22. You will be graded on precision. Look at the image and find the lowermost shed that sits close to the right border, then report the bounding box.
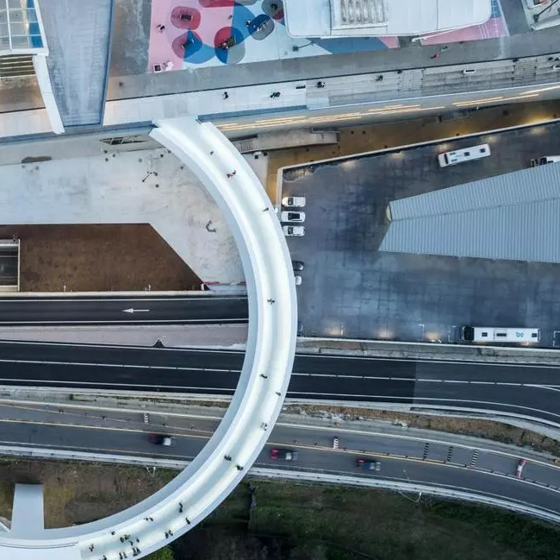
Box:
[378,160,560,266]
